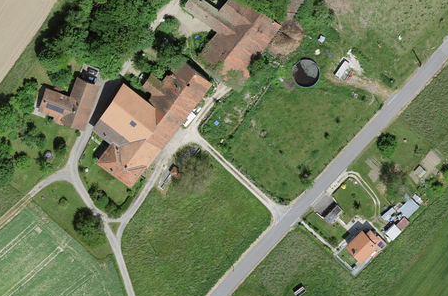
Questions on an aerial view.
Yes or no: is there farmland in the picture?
Yes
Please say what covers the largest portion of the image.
grass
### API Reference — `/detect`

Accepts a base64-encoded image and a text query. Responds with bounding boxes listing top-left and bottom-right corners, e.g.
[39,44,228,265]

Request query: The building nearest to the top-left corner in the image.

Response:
[38,78,101,132]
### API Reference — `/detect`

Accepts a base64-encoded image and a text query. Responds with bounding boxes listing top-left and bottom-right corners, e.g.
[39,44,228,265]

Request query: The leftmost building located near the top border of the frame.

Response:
[185,0,280,80]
